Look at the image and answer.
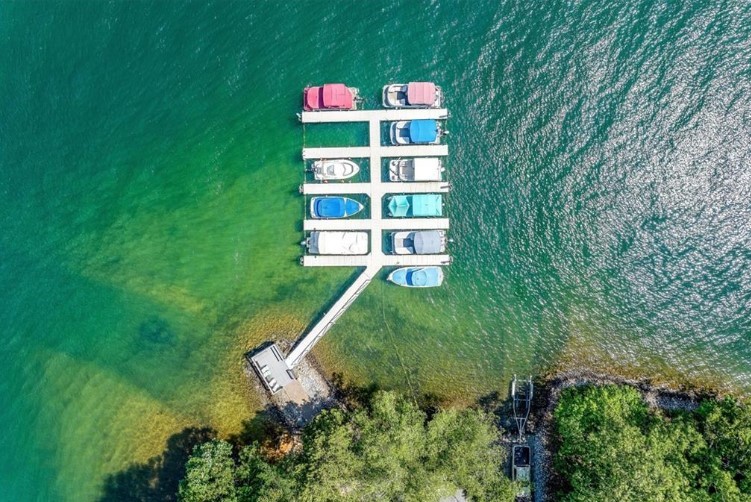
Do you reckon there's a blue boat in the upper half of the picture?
Yes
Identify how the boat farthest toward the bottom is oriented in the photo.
from side to side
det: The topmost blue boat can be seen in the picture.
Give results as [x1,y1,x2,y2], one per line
[390,119,447,145]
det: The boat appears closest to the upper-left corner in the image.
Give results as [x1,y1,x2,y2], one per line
[304,83,362,114]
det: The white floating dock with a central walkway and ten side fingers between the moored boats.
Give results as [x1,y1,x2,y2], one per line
[302,108,450,280]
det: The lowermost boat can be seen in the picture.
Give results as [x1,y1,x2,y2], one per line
[387,262,447,289]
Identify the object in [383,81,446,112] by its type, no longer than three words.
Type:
boat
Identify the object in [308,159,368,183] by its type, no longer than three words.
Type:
boat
